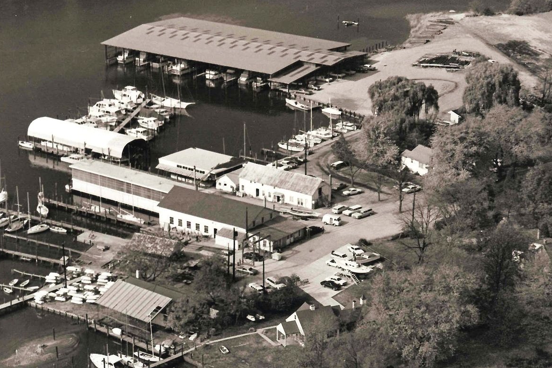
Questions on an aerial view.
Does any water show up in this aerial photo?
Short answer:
Yes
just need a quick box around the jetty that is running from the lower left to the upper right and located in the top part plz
[115,96,154,128]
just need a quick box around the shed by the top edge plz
[102,17,375,98]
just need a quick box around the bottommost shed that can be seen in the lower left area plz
[96,279,206,337]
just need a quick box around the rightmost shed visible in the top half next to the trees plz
[447,103,476,124]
